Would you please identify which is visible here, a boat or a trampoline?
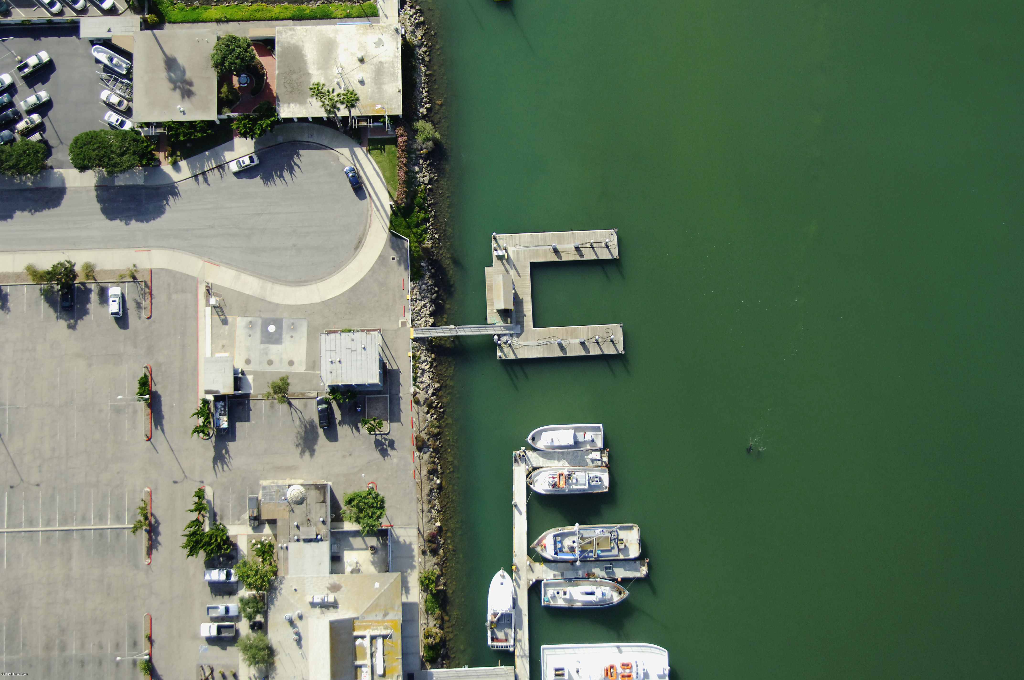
boat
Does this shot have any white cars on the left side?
Yes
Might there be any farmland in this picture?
No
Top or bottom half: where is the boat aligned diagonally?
top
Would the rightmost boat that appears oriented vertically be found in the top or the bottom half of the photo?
bottom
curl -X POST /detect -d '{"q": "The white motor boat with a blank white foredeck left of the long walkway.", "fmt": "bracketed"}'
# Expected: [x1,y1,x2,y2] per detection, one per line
[486,567,516,651]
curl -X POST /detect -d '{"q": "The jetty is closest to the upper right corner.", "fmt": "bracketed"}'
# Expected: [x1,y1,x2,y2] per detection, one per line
[485,229,624,360]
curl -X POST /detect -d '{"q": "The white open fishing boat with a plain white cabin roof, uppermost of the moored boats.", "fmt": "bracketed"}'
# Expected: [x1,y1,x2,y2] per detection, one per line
[525,424,603,450]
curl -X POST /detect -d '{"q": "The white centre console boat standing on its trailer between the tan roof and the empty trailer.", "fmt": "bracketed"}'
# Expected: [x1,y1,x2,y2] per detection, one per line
[93,45,132,74]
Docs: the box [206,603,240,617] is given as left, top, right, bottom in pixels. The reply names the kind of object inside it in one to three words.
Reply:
vehicle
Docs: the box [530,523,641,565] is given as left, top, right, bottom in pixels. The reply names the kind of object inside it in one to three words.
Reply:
boat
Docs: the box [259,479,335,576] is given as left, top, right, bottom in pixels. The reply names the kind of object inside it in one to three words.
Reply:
building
